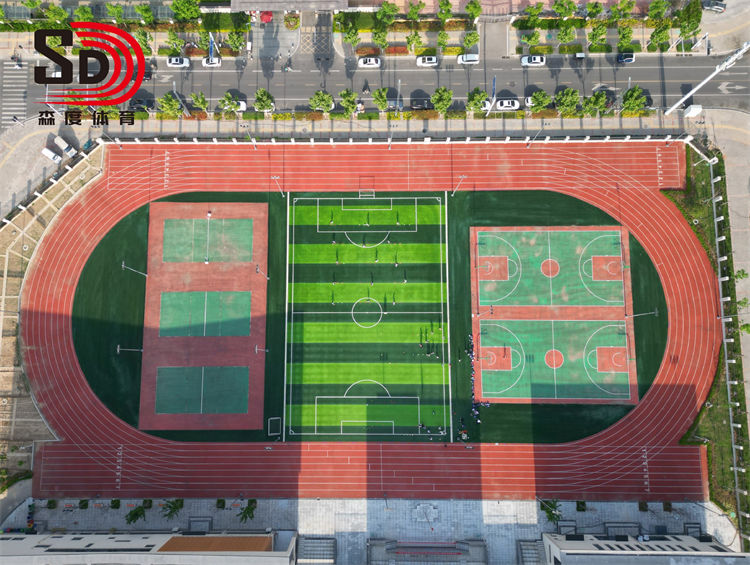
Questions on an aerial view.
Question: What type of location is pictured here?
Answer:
sports ground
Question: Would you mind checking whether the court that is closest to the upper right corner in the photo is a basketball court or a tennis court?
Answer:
basketball court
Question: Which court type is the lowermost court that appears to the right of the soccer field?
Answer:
basketball court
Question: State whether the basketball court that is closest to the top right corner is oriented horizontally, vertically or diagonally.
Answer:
horizontally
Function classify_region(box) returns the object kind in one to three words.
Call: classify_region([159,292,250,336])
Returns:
sports court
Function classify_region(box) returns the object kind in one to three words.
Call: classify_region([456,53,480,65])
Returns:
vehicle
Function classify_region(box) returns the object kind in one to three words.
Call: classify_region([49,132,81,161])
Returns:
truck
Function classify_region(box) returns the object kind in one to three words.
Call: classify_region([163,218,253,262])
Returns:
sports court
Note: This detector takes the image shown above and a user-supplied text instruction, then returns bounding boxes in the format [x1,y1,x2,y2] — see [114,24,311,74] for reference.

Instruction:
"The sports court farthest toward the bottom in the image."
[156,366,249,413]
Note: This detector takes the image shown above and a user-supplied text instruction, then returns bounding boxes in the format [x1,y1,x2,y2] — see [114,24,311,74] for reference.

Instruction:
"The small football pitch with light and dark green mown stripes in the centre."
[284,191,452,445]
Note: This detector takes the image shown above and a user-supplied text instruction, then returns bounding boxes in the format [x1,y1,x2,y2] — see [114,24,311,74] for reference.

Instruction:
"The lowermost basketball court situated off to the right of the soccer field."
[480,320,631,399]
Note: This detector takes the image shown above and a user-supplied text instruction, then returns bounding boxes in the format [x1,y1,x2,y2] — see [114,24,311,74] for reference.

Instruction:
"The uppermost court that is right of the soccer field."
[478,231,625,306]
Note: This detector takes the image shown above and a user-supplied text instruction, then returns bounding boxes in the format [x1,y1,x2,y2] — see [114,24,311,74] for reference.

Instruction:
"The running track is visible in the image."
[17,141,723,501]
